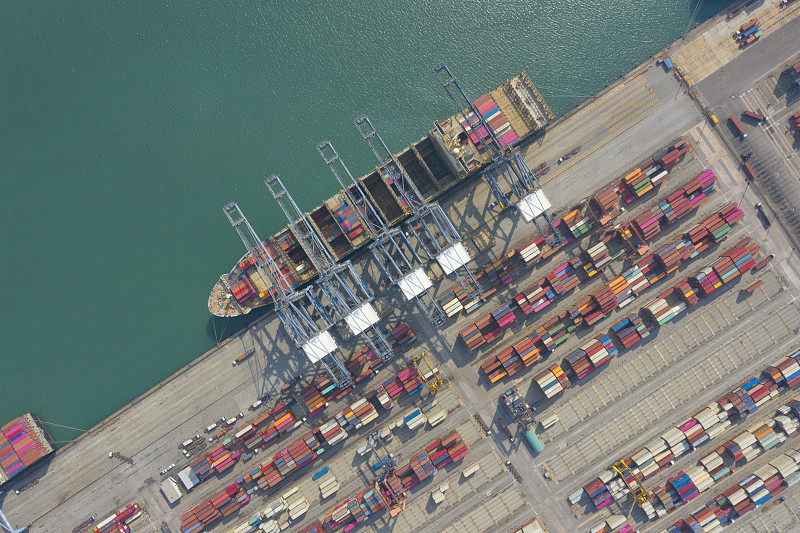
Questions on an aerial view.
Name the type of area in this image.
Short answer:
port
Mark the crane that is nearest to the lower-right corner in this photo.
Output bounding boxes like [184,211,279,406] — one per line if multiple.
[604,452,647,501]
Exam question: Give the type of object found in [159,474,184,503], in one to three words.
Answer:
building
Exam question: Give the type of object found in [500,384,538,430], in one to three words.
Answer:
crane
